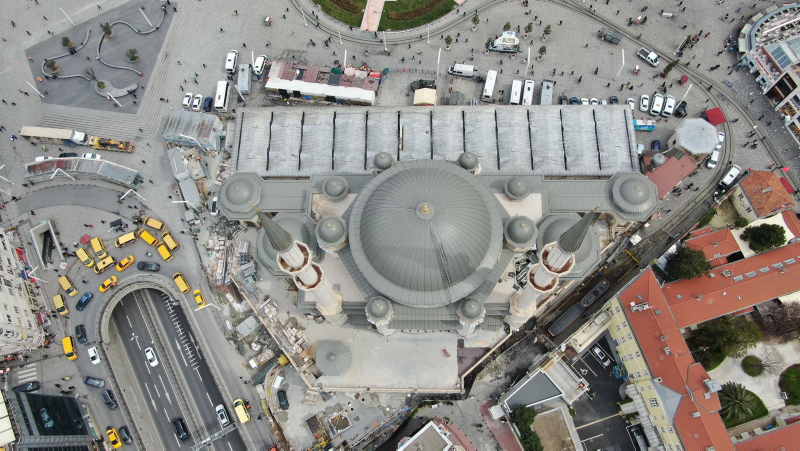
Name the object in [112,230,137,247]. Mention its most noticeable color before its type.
yellow car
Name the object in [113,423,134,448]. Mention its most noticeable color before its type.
gray car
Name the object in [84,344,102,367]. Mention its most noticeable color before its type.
white car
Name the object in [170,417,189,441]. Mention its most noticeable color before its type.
black car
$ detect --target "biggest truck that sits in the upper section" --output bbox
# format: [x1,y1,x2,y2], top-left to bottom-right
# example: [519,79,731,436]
[9,124,85,146]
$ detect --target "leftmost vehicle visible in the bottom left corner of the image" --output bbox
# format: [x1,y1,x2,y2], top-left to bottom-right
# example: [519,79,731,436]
[9,379,39,395]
